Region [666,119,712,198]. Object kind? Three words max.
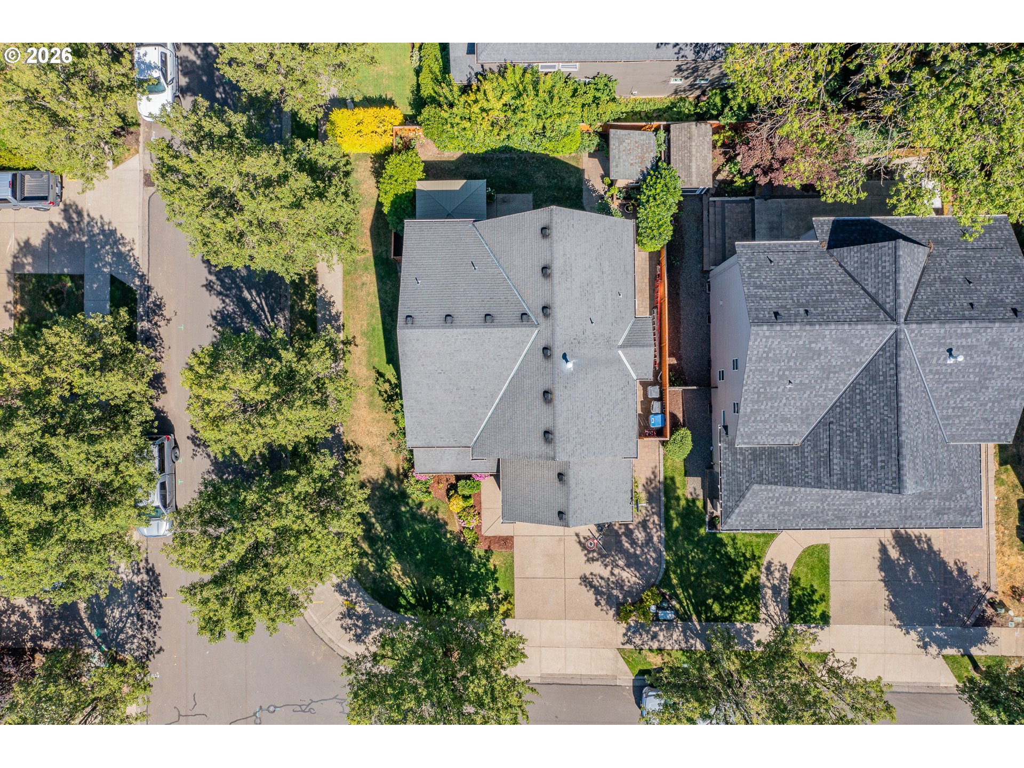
shed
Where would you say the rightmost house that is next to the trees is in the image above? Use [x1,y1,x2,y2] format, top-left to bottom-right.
[705,212,1024,533]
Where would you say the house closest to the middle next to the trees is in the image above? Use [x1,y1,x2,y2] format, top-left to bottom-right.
[397,204,655,527]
